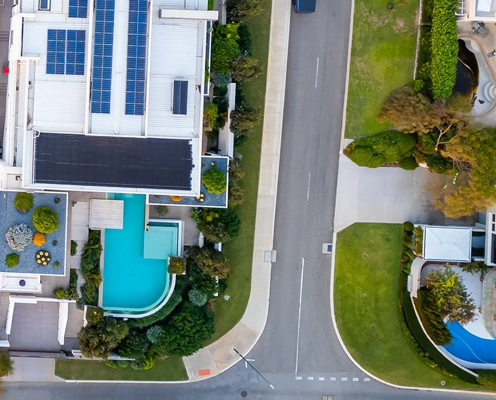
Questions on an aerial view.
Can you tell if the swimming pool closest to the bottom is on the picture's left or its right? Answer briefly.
right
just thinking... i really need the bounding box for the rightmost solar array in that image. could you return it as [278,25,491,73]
[125,0,148,115]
